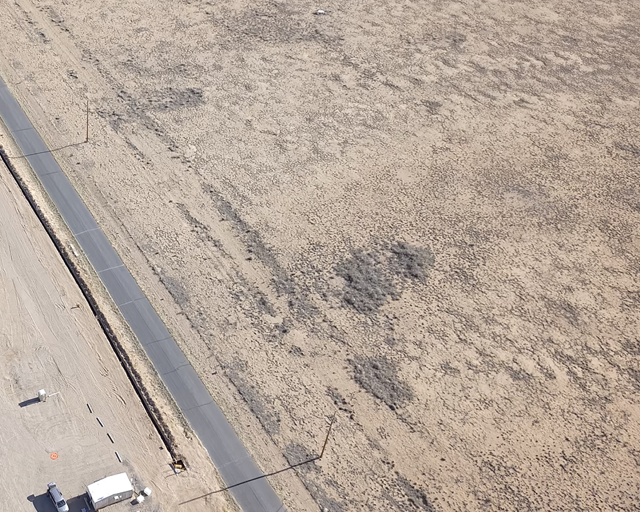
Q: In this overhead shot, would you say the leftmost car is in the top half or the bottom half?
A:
bottom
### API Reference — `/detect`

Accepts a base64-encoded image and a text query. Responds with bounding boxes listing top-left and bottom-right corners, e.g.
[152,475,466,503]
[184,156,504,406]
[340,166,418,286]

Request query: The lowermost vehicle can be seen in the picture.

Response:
[48,482,69,512]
